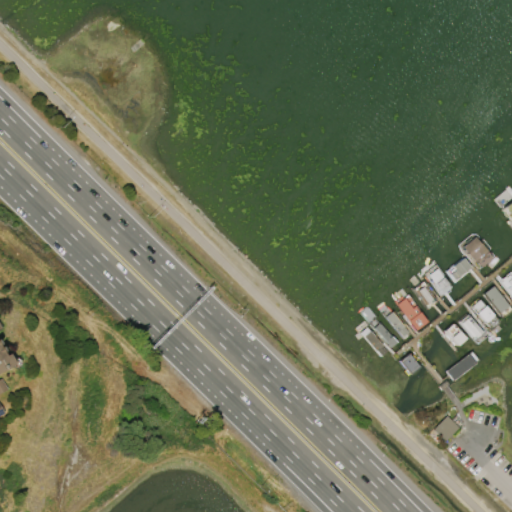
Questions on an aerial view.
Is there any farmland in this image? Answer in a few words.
No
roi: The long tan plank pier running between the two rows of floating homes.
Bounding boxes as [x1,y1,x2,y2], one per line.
[394,256,512,354]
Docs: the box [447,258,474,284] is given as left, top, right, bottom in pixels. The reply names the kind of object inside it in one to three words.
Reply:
house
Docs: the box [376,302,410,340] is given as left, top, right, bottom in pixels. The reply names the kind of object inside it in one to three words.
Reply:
house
